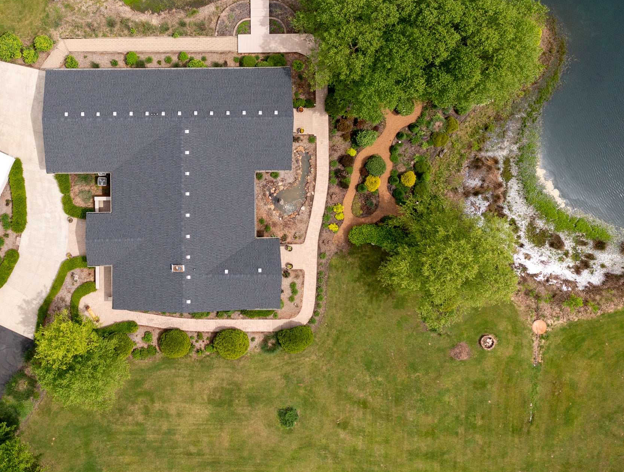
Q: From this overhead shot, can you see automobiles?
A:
No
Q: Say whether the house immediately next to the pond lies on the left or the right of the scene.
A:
left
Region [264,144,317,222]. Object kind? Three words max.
pond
